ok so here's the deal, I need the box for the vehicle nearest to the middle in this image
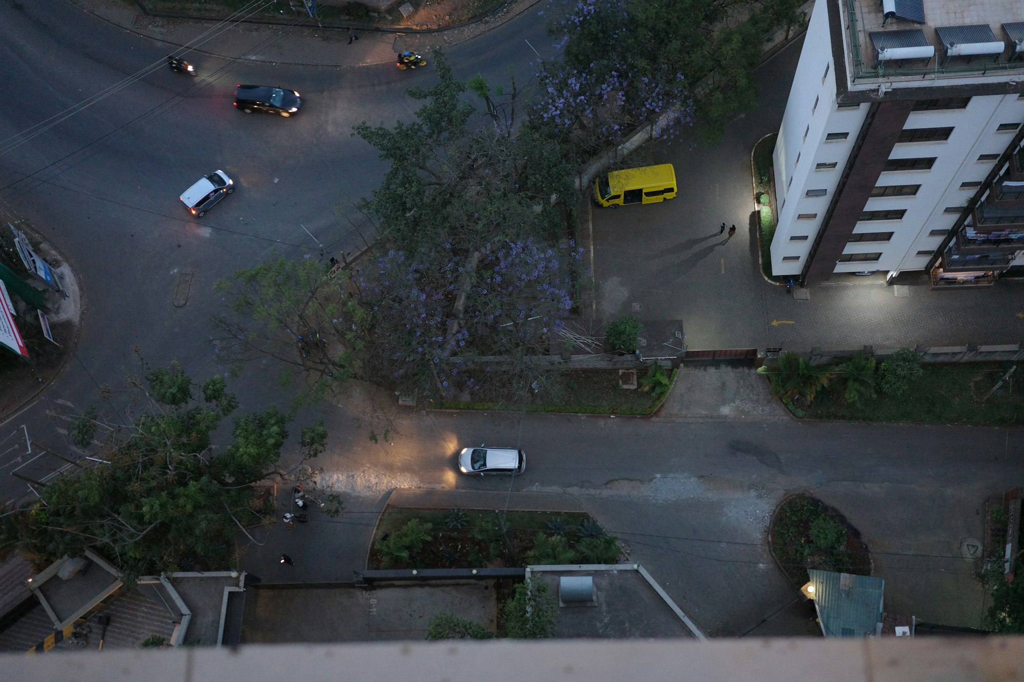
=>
[458,440,529,478]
